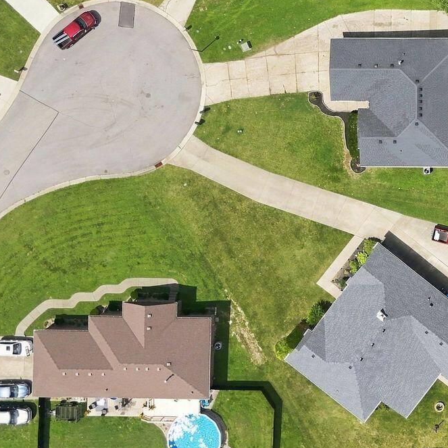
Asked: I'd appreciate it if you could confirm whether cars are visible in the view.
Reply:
Yes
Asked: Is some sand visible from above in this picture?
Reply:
No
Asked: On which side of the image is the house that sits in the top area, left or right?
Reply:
right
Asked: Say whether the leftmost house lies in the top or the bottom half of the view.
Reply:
bottom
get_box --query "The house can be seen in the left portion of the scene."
[32,299,215,399]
